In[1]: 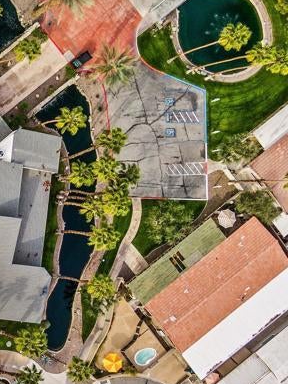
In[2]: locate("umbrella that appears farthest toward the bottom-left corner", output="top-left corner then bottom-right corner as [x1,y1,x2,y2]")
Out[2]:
[100,352,119,371]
